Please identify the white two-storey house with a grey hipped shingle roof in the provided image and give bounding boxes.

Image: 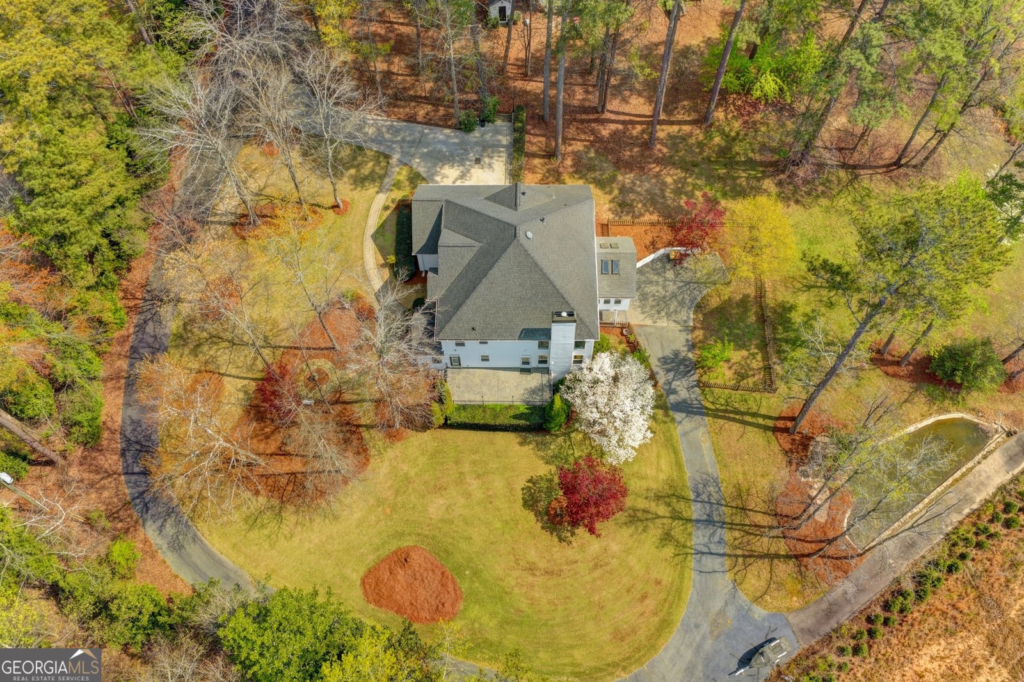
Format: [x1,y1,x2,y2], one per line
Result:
[397,179,638,383]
